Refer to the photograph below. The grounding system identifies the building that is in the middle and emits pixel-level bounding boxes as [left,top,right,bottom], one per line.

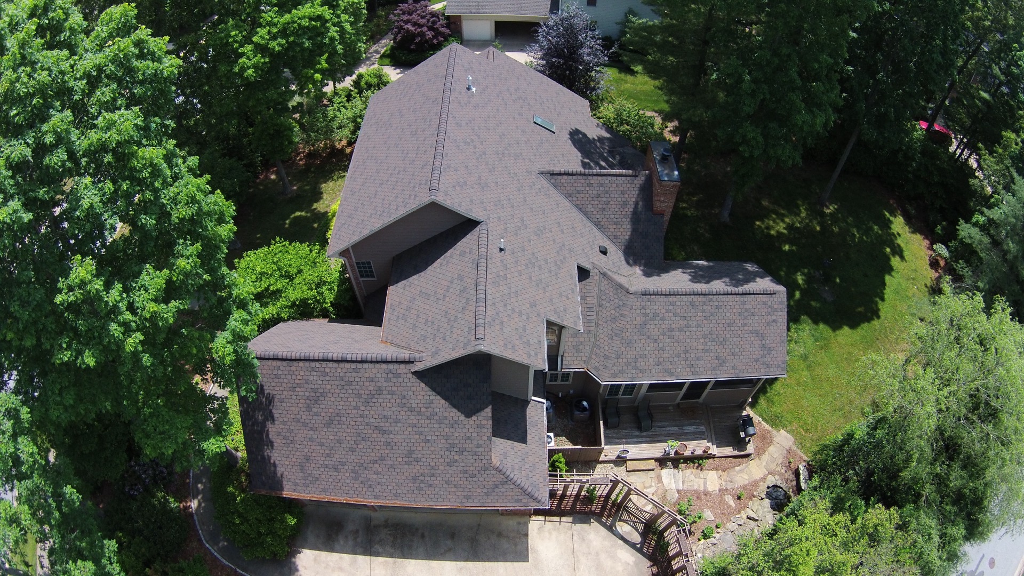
[247,43,788,515]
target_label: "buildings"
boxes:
[247,43,788,515]
[442,0,557,41]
